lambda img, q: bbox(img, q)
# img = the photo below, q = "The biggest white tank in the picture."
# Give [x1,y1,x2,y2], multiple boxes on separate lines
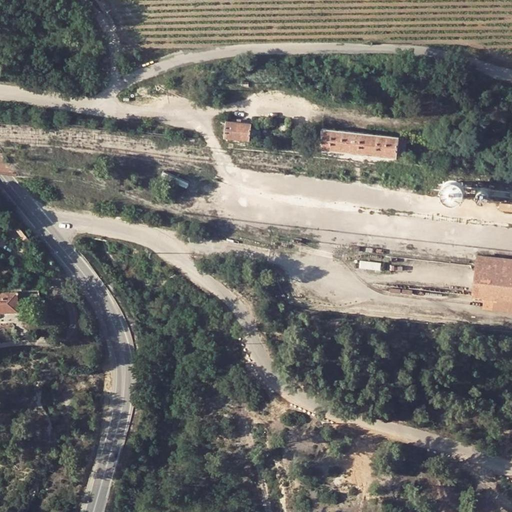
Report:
[432,180,464,208]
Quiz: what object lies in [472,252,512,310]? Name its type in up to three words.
shed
